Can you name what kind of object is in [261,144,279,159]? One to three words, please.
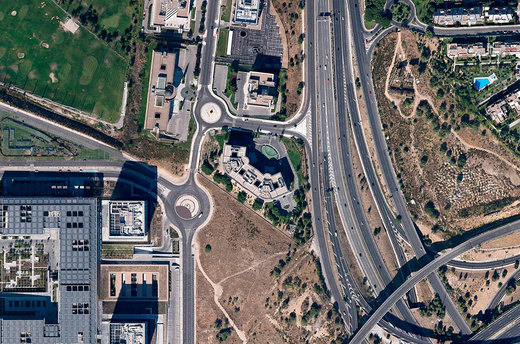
fountain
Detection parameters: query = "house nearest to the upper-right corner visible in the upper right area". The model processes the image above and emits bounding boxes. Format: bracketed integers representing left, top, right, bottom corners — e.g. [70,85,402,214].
[486,7,514,24]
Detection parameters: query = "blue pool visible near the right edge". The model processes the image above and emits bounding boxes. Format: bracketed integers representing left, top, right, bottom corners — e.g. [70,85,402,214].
[474,73,498,90]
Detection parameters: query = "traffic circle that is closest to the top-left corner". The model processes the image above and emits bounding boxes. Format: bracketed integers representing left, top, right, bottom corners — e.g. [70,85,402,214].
[192,93,231,132]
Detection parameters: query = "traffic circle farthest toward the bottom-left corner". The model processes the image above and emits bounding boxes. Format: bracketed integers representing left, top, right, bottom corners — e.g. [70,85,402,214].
[164,183,211,229]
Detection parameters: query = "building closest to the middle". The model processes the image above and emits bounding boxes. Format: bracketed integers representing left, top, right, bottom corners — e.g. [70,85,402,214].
[221,142,288,199]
